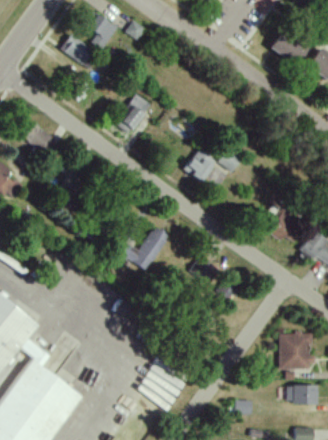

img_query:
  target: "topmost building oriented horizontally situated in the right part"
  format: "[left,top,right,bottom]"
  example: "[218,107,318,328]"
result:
[272,40,310,58]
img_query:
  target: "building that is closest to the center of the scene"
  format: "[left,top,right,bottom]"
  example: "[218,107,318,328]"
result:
[124,228,167,270]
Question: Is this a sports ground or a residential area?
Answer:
residential area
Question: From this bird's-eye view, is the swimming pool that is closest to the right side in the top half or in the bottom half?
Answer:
top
